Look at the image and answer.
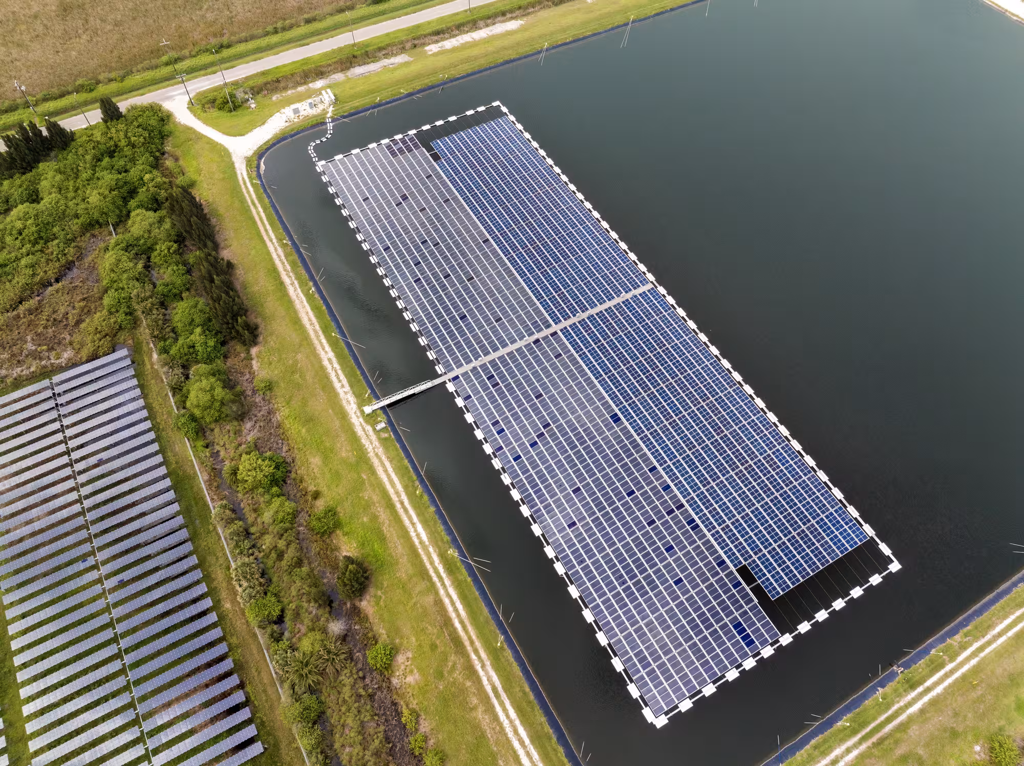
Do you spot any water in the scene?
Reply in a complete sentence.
Yes, water shows up in the scene.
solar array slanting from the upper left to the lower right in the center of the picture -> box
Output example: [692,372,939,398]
[321,109,890,718]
